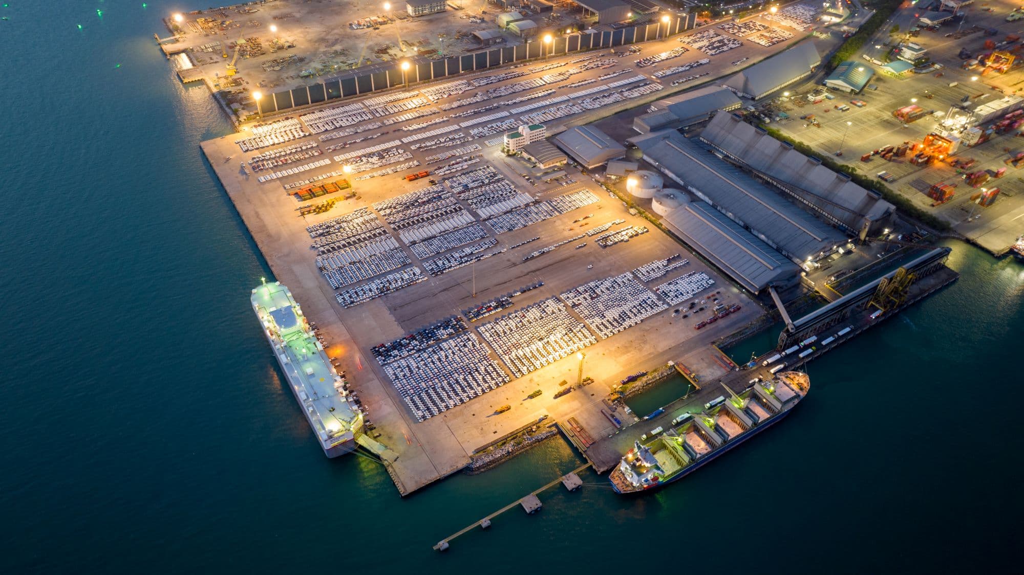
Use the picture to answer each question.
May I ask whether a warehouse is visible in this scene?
Yes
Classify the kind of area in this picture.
port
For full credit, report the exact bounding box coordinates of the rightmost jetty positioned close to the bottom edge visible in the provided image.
[434,459,593,549]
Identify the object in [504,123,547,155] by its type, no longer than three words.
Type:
building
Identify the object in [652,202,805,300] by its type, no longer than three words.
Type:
building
